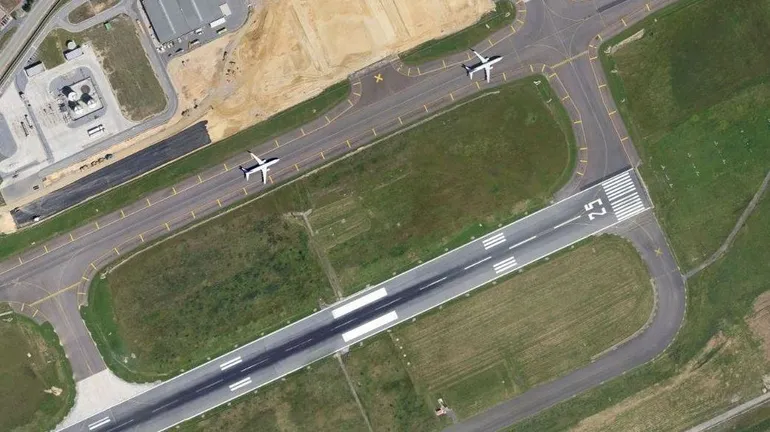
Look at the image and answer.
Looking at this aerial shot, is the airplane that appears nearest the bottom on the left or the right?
left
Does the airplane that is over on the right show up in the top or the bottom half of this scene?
top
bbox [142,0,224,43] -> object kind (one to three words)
building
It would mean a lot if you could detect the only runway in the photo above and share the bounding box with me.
[53,166,653,432]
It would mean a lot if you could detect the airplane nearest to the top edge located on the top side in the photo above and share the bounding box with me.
[466,50,504,82]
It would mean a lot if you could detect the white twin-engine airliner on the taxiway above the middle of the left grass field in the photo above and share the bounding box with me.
[241,153,279,184]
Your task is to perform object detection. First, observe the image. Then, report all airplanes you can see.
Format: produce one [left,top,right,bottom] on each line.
[466,50,504,82]
[241,153,279,184]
